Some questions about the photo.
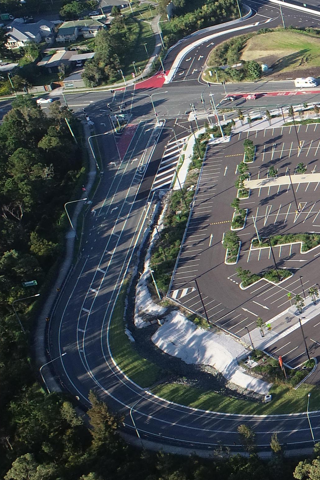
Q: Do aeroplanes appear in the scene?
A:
No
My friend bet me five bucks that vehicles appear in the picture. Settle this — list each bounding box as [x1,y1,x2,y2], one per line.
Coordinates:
[245,94,259,100]
[224,95,238,101]
[36,97,52,104]
[293,77,317,87]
